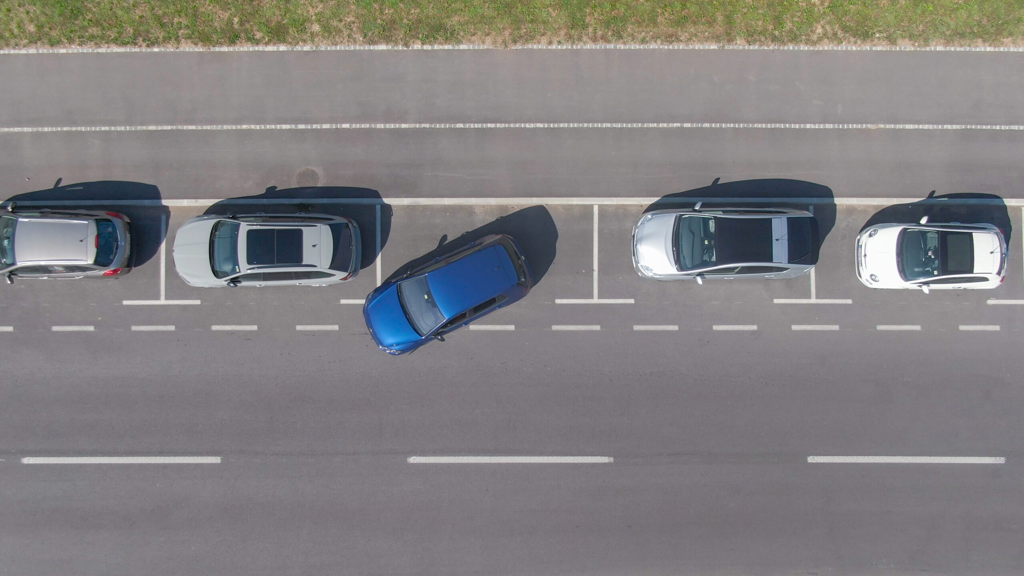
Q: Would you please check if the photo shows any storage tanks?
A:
No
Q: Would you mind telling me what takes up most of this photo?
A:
paved ground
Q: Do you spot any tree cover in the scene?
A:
No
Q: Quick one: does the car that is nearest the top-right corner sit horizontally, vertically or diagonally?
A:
horizontally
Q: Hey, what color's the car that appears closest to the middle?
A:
blue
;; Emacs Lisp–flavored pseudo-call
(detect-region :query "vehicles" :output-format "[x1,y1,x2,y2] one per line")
[172,210,363,289]
[854,216,1007,294]
[0,203,138,284]
[362,230,533,355]
[631,201,820,285]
